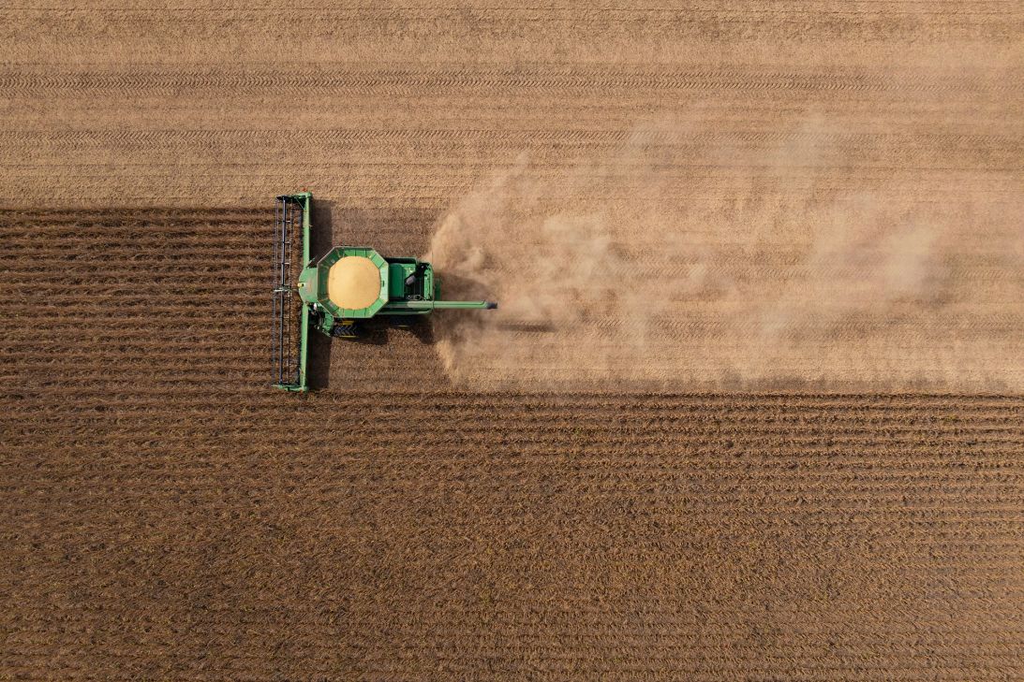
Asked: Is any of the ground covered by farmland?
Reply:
Yes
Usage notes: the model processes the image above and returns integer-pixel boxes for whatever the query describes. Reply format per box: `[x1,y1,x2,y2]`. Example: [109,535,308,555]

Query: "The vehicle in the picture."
[271,188,499,392]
